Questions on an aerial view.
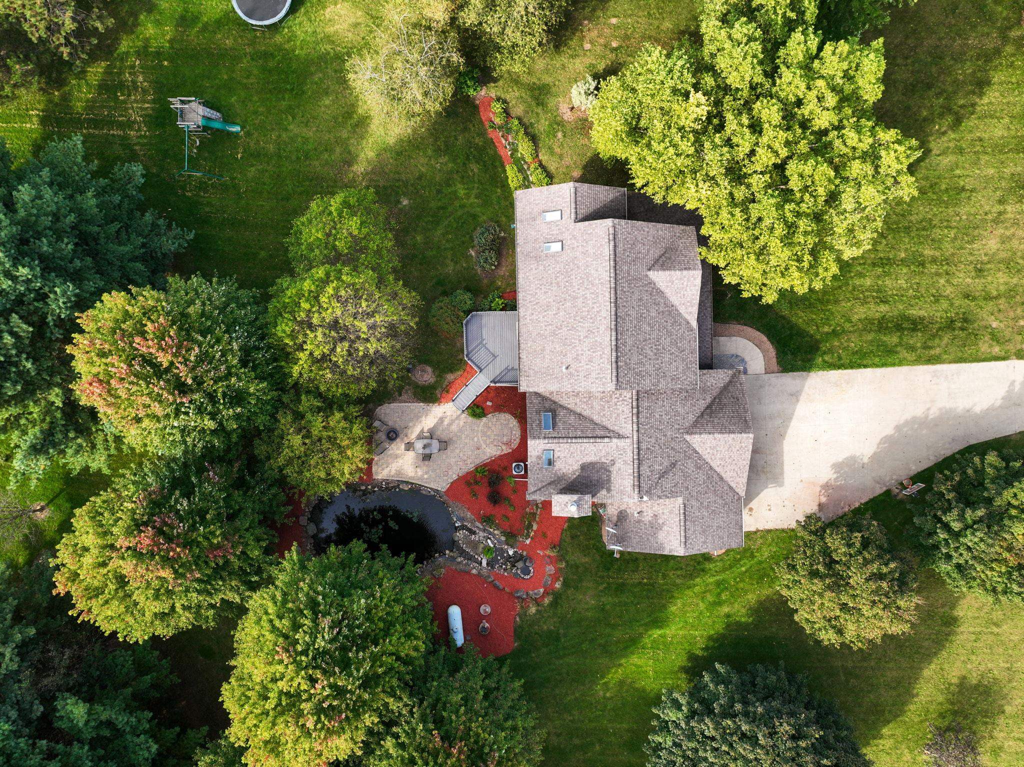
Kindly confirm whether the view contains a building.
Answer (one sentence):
Yes, looking at the shot, I can spot a building.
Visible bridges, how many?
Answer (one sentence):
There are no bridges in the image.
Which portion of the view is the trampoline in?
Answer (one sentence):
You can find the trampoline in the top left area of the picture.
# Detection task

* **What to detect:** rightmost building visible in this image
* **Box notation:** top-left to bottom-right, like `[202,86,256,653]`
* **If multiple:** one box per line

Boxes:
[513,183,753,556]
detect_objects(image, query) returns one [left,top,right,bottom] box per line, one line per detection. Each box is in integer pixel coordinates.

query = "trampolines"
[231,0,296,31]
